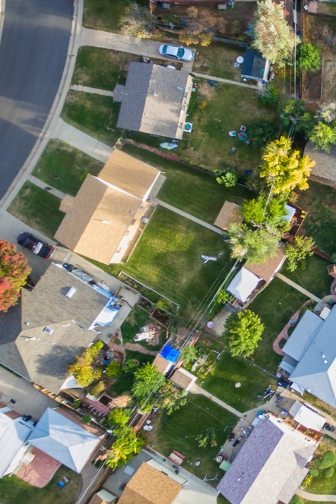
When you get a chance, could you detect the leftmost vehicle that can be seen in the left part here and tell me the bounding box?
[18,232,57,261]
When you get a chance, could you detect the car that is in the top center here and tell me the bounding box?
[158,45,196,62]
